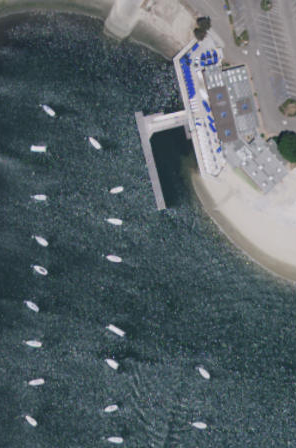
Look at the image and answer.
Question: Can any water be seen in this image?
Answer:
Yes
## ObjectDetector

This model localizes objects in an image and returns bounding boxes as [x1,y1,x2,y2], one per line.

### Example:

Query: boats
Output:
[40,104,55,117]
[104,218,122,224]
[28,378,45,384]
[32,194,46,200]
[104,437,124,443]
[24,414,38,427]
[23,300,39,312]
[22,340,41,346]
[86,136,101,150]
[32,235,47,246]
[110,185,123,192]
[31,264,48,276]
[190,422,206,428]
[104,404,118,411]
[196,366,210,380]
[28,146,46,152]
[102,358,119,370]
[104,256,122,262]
[106,324,124,336]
